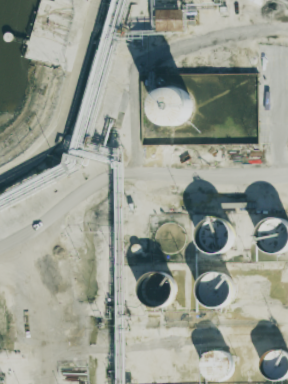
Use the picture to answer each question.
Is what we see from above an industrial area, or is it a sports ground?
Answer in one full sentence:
The area seen from above is an industrial area.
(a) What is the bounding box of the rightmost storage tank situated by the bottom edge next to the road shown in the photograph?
[260,348,288,382]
